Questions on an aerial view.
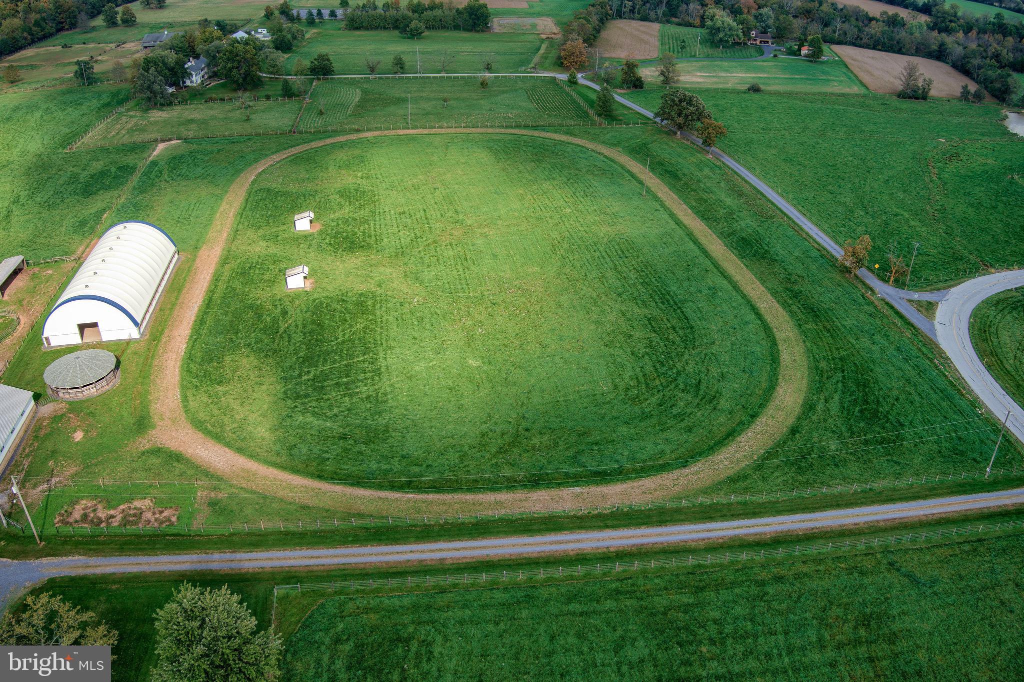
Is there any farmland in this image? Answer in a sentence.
Yes, there is farmland in the image.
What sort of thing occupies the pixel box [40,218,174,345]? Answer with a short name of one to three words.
barn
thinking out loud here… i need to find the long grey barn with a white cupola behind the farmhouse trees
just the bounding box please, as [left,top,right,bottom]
[138,25,188,51]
